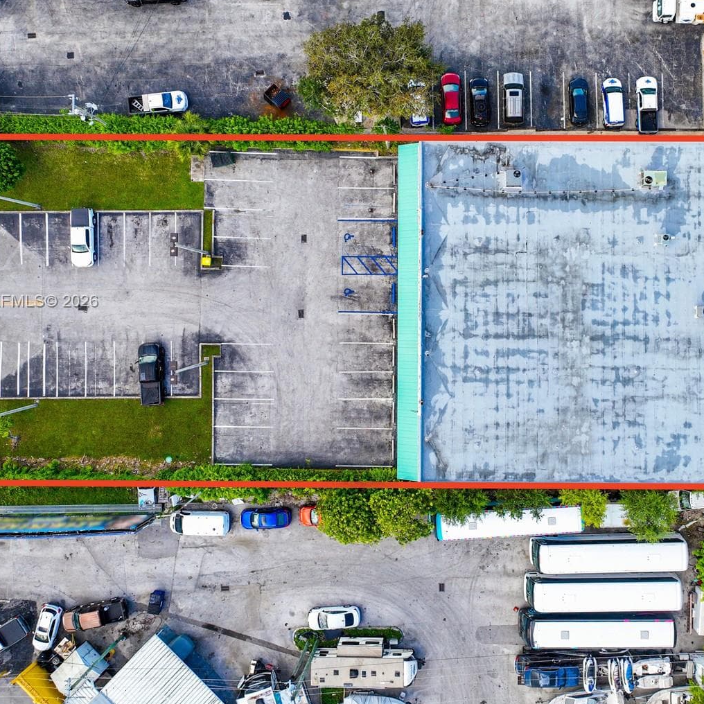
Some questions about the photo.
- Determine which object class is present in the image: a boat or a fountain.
boat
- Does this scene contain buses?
Yes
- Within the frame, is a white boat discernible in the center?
No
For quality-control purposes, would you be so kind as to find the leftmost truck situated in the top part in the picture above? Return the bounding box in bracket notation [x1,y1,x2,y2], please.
[69,208,97,266]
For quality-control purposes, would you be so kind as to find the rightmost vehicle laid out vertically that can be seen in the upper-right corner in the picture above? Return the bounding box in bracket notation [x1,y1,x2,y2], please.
[635,77,661,135]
